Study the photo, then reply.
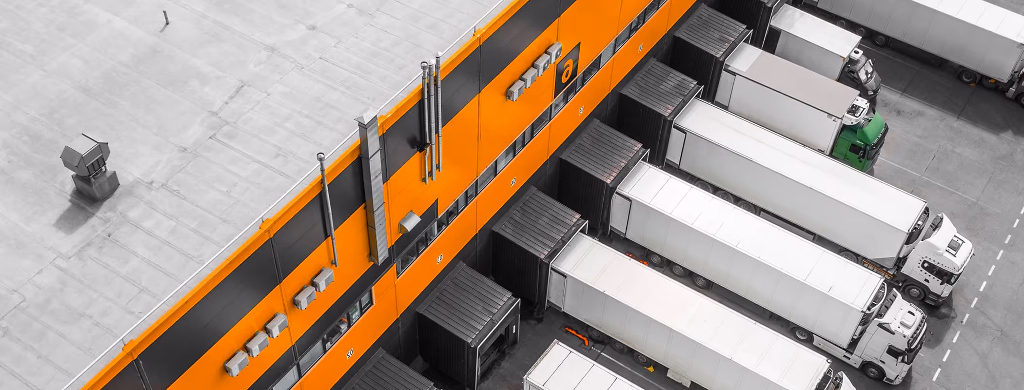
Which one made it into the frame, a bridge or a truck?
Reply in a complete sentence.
This aerial view contains a truck.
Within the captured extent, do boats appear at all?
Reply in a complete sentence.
No, the picture doesn't show any boat.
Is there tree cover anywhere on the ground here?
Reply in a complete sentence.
No, the picture contains no tree cover.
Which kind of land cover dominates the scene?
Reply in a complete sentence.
What you mostly see from above here is buildings.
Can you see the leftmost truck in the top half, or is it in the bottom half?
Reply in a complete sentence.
It is in the bottom half that the leftmost truck appears.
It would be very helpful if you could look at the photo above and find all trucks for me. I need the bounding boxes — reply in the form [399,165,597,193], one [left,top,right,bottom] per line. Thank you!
[667,98,974,303]
[612,162,931,382]
[803,0,1024,105]
[717,43,894,175]
[550,232,861,390]
[523,339,647,390]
